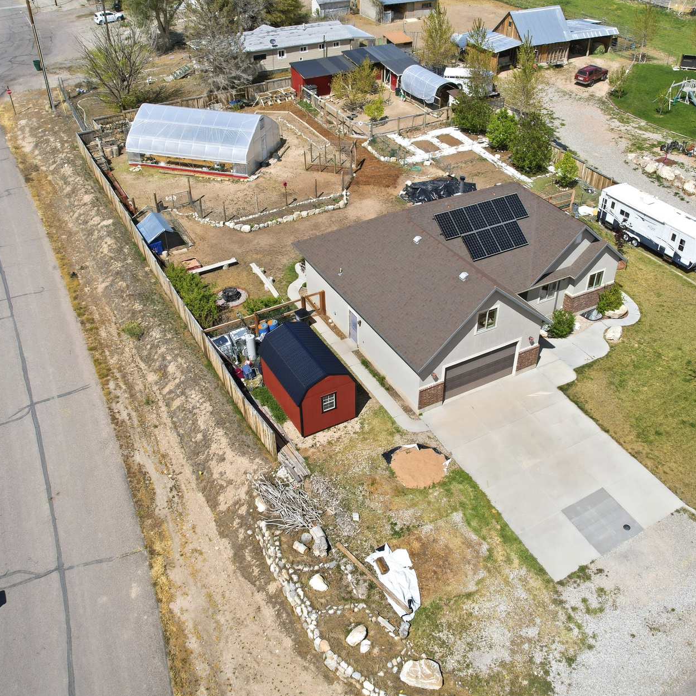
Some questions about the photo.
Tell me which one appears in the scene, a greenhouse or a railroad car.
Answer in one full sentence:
It is a greenhouse that can be seen here.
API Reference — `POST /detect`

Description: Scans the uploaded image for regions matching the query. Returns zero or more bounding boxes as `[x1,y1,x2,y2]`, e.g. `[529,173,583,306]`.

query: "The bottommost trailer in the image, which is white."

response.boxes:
[599,185,696,273]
